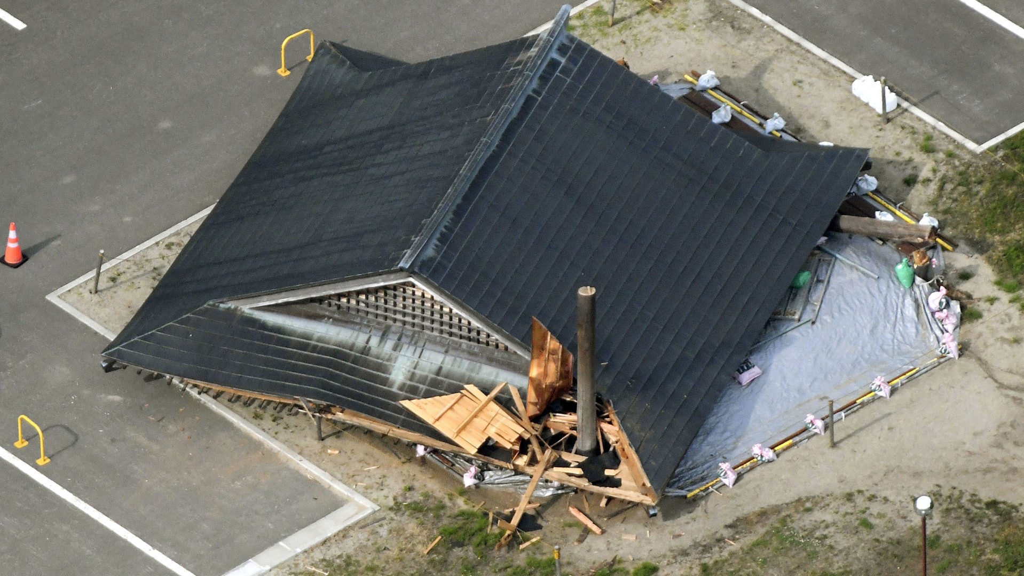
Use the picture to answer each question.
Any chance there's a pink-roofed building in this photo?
No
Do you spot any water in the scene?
No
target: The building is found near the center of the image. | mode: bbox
[98,15,870,517]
